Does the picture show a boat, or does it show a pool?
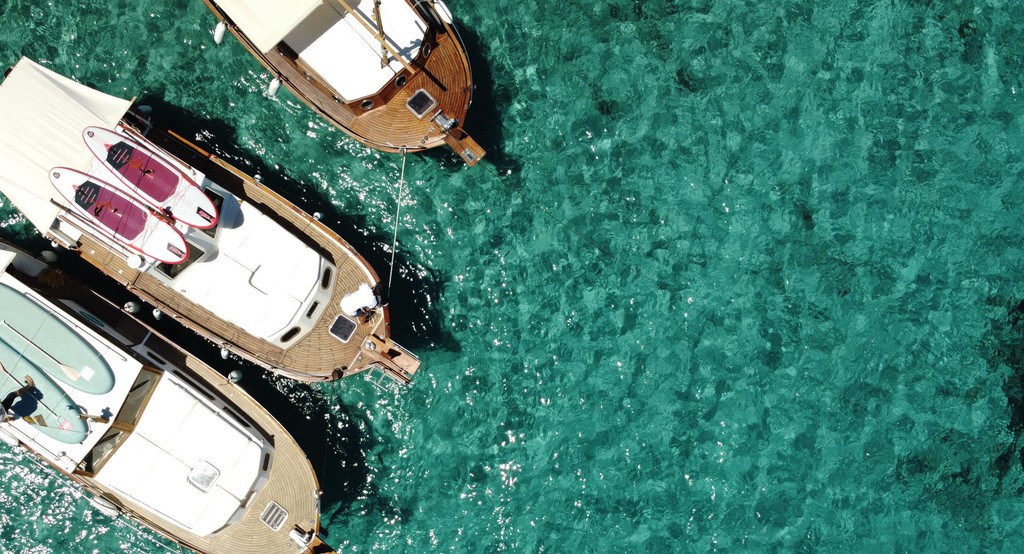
boat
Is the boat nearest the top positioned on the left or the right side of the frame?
left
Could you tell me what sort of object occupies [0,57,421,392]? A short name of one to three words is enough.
boat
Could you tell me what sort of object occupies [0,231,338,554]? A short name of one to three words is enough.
boat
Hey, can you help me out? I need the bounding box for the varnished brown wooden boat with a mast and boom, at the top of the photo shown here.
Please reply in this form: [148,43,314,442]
[202,0,483,162]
